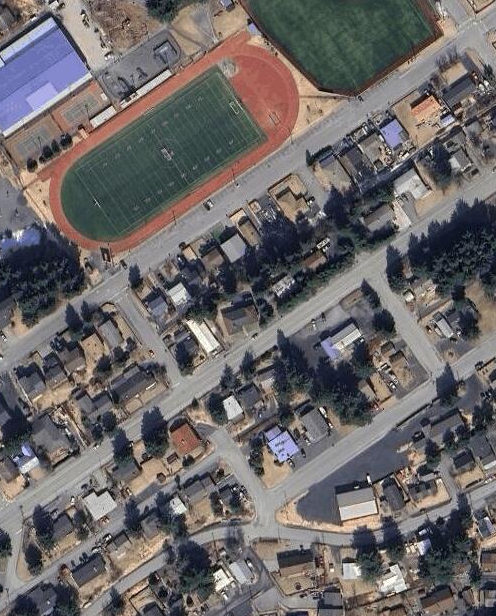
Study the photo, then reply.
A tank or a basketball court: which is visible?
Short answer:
basketball court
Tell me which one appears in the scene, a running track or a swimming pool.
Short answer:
running track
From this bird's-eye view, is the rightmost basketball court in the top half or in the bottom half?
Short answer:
top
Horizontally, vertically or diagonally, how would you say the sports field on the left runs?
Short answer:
diagonally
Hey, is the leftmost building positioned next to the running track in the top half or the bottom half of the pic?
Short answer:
top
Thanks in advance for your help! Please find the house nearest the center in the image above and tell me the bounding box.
[216,290,262,337]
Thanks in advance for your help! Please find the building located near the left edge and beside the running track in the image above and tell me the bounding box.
[0,20,92,138]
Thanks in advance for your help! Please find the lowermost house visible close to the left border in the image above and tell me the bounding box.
[21,583,60,616]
